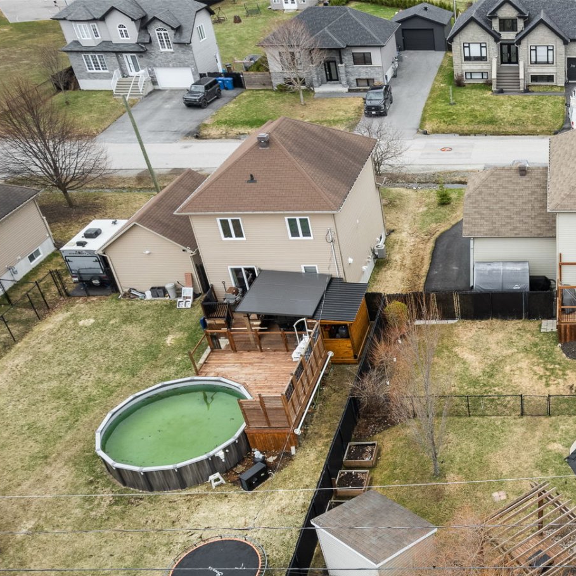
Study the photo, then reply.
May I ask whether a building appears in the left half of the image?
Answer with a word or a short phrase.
Yes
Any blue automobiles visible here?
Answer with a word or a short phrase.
No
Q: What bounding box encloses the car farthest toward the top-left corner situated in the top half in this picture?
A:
[179,78,223,107]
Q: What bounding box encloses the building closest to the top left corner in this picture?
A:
[55,0,226,97]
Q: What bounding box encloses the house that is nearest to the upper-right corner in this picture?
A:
[447,0,576,94]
